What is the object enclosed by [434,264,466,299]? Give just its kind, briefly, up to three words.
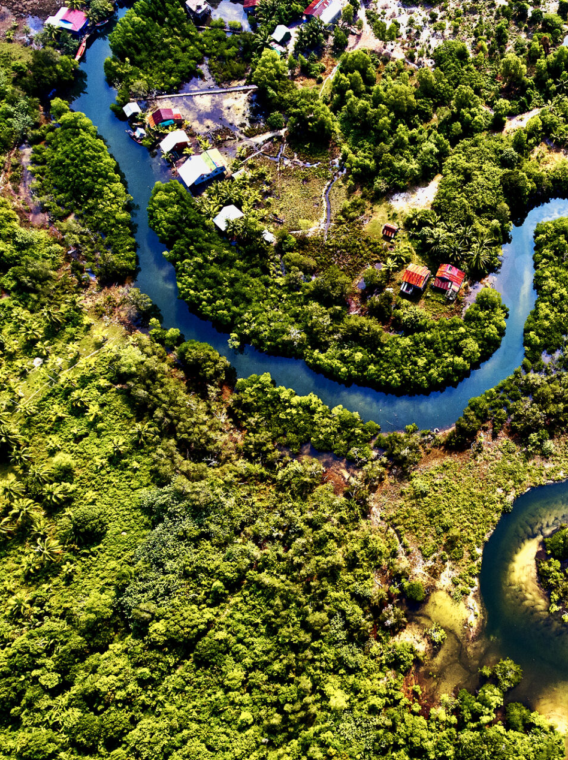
house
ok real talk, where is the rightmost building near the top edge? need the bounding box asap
[301,0,341,29]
